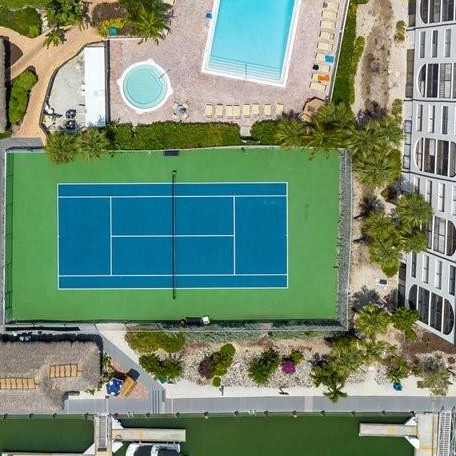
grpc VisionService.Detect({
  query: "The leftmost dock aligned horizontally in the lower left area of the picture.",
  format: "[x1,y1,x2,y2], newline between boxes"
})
[3,419,185,456]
